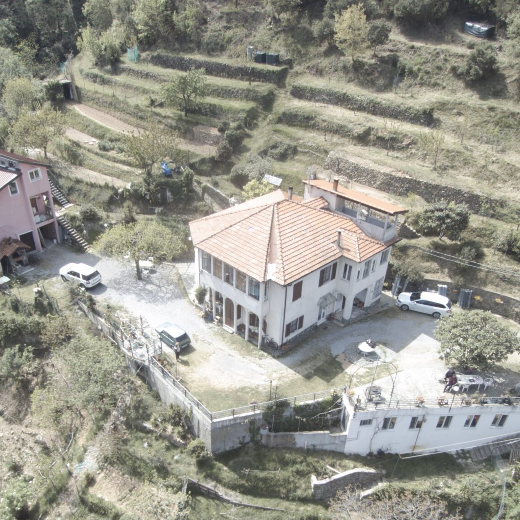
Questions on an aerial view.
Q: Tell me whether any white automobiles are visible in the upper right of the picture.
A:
No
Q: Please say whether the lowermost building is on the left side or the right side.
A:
right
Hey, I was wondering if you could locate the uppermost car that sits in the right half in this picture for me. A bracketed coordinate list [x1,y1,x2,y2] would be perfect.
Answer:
[394,291,454,319]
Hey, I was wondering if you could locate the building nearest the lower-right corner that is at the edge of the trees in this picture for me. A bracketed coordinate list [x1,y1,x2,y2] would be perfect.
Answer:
[340,390,520,453]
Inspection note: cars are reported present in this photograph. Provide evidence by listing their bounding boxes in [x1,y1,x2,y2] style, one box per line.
[57,261,104,289]
[155,317,193,349]
[394,291,454,319]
